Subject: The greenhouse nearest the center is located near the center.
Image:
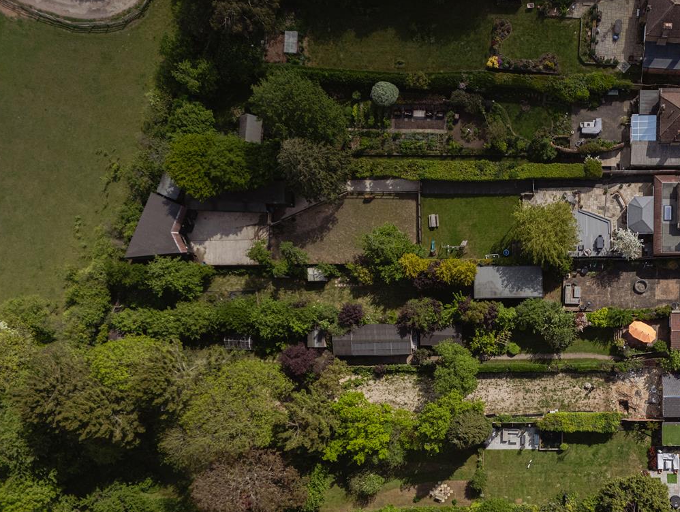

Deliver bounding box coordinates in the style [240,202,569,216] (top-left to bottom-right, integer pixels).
[307,267,330,281]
